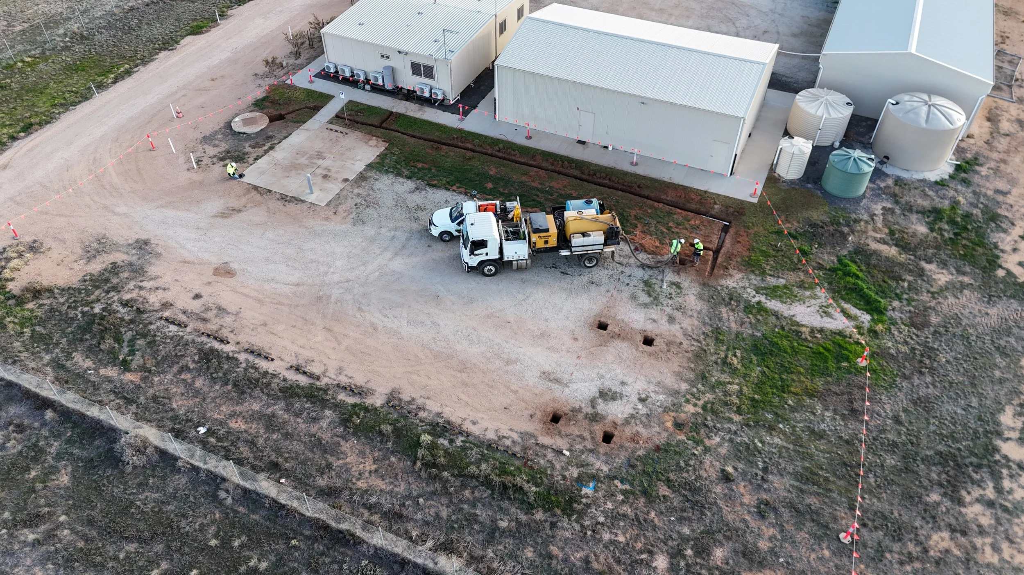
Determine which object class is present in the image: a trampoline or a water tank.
water tank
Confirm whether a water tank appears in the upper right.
Yes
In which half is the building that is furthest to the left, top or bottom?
top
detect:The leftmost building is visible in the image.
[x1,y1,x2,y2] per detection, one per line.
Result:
[319,0,533,103]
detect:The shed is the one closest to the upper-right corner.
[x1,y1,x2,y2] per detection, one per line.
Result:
[812,0,997,137]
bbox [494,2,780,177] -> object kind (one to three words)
shed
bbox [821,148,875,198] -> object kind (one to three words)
water tank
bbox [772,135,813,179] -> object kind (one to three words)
water tank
